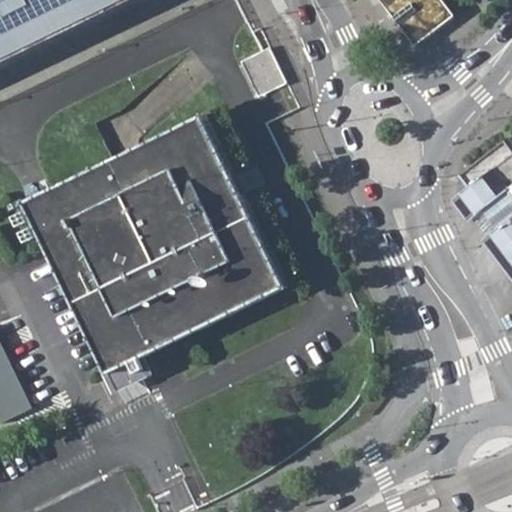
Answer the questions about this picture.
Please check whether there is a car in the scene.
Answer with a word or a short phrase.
Yes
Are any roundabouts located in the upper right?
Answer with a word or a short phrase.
Yes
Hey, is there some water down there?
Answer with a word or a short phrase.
No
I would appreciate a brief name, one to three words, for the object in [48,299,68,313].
car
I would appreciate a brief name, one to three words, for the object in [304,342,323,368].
vehicle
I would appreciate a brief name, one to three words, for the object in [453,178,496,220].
house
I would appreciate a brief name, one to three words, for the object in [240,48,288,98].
building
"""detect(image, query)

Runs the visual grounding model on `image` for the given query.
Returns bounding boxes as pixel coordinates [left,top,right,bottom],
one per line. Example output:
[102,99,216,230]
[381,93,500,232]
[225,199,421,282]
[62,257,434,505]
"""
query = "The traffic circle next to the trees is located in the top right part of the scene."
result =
[336,79,422,189]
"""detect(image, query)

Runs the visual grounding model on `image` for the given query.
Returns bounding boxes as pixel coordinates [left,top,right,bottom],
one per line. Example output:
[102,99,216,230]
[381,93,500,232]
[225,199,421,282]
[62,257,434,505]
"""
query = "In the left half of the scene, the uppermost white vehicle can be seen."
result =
[30,264,54,280]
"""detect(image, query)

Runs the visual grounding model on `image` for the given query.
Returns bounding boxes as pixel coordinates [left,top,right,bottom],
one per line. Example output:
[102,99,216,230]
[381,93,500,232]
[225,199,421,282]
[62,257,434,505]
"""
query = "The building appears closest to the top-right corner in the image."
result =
[378,0,453,42]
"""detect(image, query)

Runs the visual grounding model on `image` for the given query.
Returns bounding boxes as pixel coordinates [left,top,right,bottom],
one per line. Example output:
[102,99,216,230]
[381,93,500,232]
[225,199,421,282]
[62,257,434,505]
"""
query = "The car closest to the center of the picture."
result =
[274,198,288,217]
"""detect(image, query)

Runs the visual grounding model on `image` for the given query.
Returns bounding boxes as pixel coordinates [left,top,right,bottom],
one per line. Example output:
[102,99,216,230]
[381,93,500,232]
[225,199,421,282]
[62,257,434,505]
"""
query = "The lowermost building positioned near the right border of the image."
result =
[484,220,512,288]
